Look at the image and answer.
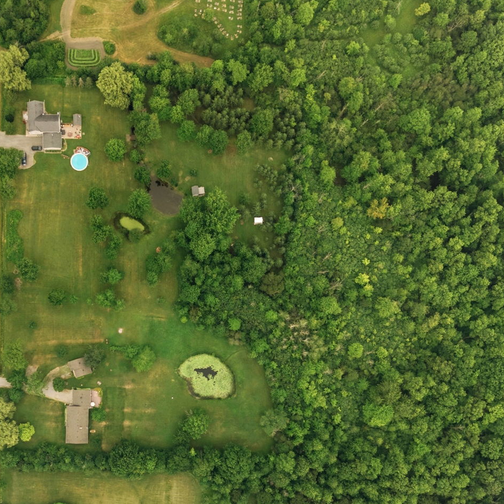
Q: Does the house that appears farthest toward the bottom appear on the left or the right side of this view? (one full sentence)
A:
It is on the left.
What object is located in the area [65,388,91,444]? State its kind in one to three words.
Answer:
house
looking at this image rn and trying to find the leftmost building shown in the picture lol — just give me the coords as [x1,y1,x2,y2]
[27,100,63,153]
